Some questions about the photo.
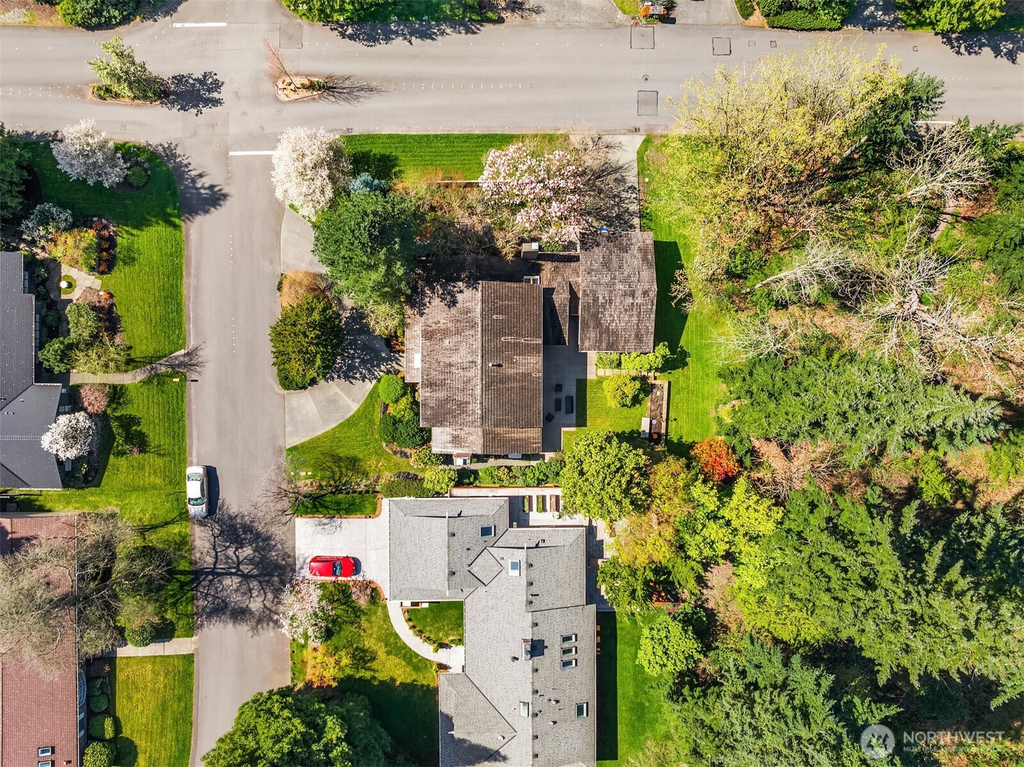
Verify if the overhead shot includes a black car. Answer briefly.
No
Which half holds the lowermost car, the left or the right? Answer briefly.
left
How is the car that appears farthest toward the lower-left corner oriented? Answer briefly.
from top to bottom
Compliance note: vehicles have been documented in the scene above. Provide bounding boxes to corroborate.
[309,555,356,580]
[186,466,213,517]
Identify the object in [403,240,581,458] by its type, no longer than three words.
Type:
house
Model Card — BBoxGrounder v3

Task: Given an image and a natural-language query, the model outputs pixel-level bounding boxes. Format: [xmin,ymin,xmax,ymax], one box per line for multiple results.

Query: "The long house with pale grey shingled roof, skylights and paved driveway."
[388,496,597,767]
